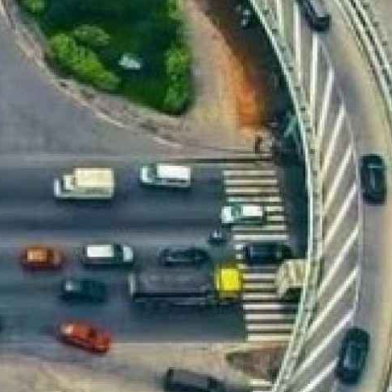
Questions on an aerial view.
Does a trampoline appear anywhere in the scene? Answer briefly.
No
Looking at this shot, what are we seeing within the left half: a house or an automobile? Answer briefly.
automobile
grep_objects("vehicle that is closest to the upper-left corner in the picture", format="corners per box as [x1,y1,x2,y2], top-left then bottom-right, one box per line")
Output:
[52,169,117,200]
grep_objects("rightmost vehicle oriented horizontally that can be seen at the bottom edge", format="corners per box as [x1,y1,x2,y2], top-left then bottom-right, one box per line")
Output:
[165,367,223,392]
